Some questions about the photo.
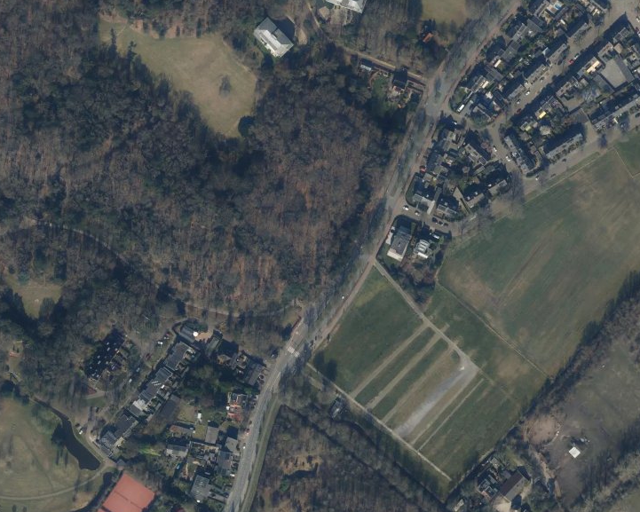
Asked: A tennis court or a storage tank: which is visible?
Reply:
tennis court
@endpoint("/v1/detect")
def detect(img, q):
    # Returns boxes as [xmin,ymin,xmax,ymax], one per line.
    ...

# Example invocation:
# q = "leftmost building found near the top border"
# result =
[253,18,294,58]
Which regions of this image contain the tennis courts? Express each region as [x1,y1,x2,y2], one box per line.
[104,491,144,512]
[114,473,155,509]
